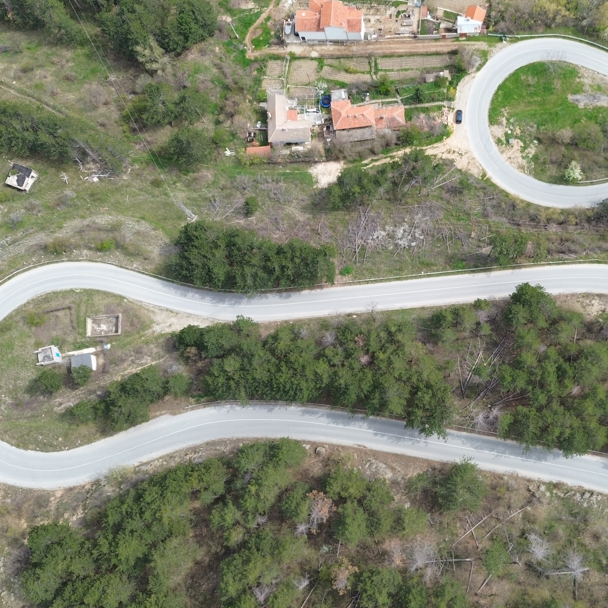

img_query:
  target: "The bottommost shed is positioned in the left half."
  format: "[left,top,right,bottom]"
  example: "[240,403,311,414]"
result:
[71,353,98,373]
